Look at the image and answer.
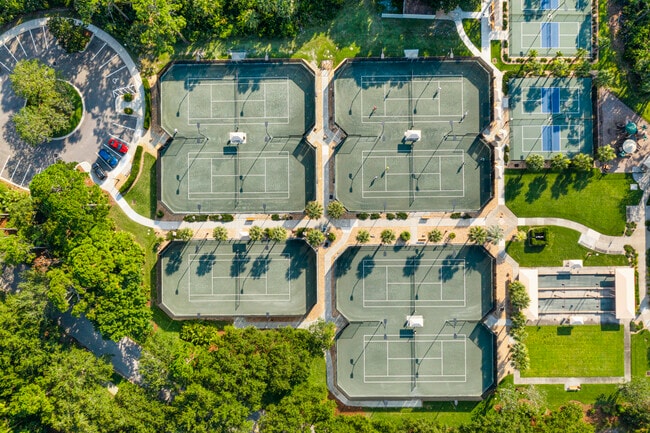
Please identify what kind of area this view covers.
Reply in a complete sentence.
This image shows a sports ground.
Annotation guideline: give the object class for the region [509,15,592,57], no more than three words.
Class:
sports court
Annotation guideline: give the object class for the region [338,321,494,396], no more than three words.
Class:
tennis court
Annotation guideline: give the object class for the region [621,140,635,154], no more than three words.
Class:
umbrella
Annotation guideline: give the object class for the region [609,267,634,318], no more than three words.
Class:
building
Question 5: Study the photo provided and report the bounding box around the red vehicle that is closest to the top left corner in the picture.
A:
[107,137,128,153]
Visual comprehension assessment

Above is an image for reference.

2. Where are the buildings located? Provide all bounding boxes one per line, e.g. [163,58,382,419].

[515,268,537,319]
[609,267,634,318]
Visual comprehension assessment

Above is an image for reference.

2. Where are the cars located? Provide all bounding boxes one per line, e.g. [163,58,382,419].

[89,161,107,180]
[96,147,117,166]
[107,137,128,153]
